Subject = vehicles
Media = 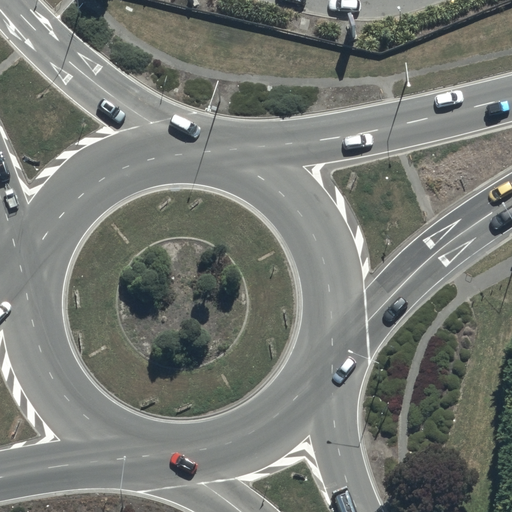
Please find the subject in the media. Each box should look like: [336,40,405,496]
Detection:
[490,180,512,202]
[494,210,512,230]
[330,0,360,11]
[333,487,354,512]
[332,356,357,385]
[434,91,462,107]
[96,98,124,122]
[276,0,306,8]
[0,300,10,320]
[169,115,200,136]
[170,454,196,474]
[342,135,372,150]
[0,154,8,186]
[382,297,410,324]
[486,100,510,116]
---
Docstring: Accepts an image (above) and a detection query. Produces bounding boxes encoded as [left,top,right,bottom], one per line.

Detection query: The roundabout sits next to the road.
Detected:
[0,118,366,488]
